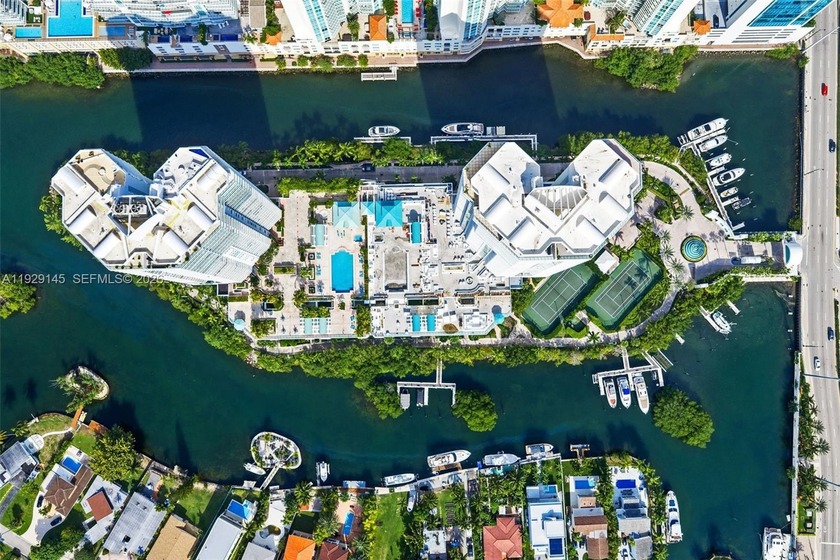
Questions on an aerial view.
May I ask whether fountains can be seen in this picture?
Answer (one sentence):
Yes, the frame does contain a fountain.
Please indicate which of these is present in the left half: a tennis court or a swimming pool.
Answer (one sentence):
The feature located in the left half is a swimming pool.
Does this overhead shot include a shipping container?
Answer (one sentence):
No, there's no shipping container here.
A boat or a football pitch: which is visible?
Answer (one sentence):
There is a boat in the scene.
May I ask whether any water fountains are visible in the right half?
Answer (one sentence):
Yes, a water fountain can be seen in the right half.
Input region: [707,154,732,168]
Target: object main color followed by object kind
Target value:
white boat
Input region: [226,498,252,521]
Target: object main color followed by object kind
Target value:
blue swimming pool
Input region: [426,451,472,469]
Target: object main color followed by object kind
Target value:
white boat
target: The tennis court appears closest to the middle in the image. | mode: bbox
[523,260,602,333]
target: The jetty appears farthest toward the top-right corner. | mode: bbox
[678,127,748,231]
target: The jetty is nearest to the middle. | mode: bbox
[399,361,457,406]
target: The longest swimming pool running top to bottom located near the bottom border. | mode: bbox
[342,511,355,536]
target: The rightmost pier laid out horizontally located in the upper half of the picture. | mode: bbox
[430,134,538,151]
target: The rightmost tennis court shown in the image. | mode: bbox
[587,250,664,329]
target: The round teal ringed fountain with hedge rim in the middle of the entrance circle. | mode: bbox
[680,235,707,262]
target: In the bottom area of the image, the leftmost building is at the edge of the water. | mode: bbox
[0,440,40,491]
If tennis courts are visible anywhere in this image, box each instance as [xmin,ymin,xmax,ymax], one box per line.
[587,250,664,329]
[523,260,602,333]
